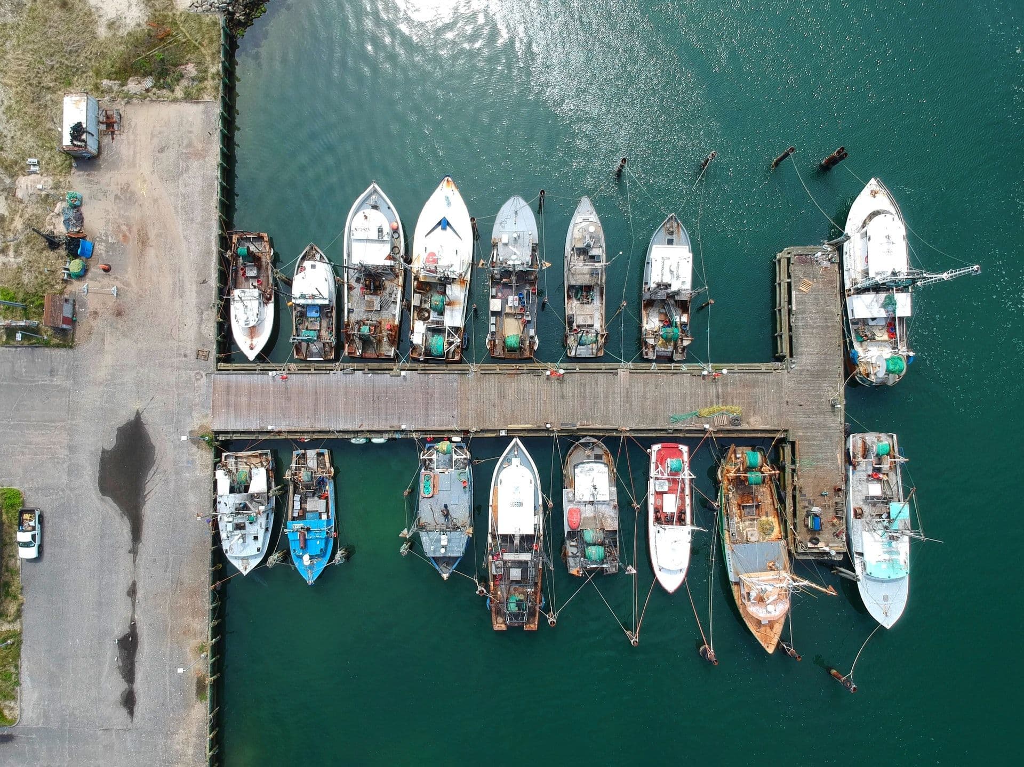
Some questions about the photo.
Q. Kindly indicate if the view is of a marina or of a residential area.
marina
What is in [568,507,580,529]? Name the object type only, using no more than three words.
boat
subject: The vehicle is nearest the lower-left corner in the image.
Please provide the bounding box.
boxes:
[16,506,43,559]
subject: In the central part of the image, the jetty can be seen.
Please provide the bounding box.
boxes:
[213,247,847,559]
